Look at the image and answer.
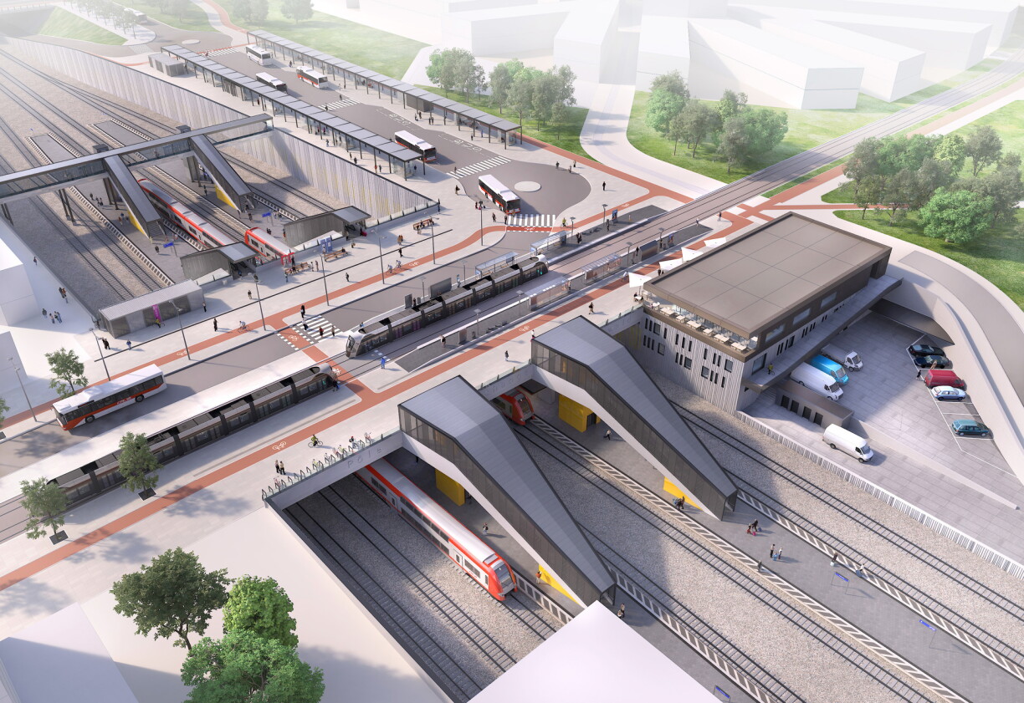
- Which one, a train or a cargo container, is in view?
train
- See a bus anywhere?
Yes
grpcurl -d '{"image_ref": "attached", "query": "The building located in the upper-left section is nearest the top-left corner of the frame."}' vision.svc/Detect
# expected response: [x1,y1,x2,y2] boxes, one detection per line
[147,48,185,74]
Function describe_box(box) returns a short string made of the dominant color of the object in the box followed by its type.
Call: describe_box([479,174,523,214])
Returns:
white bus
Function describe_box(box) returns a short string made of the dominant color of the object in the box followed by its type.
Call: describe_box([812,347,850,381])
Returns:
blue van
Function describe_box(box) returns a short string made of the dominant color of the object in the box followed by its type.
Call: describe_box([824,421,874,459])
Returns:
white van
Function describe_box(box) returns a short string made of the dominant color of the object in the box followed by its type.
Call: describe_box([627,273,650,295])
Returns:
white umbrella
